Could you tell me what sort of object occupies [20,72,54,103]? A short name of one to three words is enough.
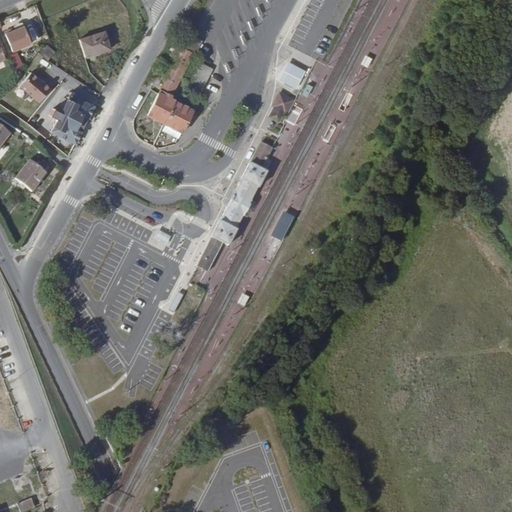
house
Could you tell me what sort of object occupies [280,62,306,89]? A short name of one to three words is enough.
building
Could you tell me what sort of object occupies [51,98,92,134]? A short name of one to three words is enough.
house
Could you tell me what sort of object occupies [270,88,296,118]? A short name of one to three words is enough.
building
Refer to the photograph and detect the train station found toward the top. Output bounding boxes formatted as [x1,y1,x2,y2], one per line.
[224,162,268,223]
